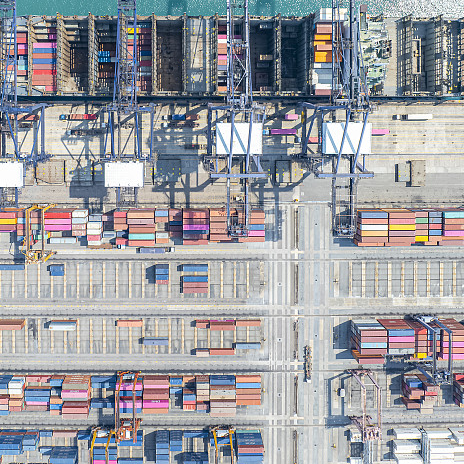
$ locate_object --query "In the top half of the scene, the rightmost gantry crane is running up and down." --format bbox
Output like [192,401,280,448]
[287,0,373,237]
